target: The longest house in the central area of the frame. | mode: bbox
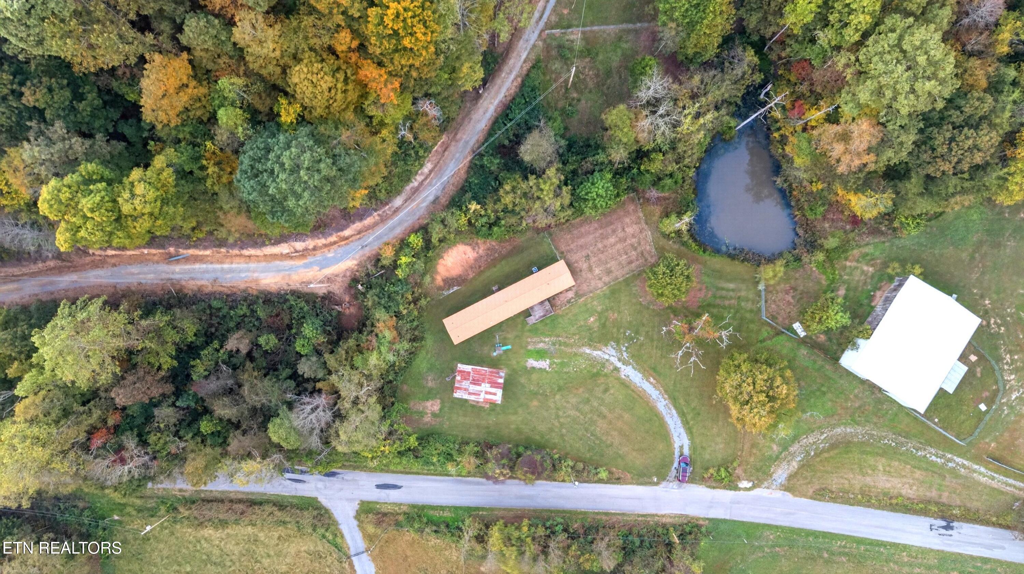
[443,260,575,344]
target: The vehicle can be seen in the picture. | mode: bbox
[677,455,691,483]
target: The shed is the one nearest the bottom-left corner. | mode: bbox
[453,364,505,403]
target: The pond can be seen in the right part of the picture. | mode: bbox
[688,78,799,266]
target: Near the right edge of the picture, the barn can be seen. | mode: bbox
[834,275,982,413]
